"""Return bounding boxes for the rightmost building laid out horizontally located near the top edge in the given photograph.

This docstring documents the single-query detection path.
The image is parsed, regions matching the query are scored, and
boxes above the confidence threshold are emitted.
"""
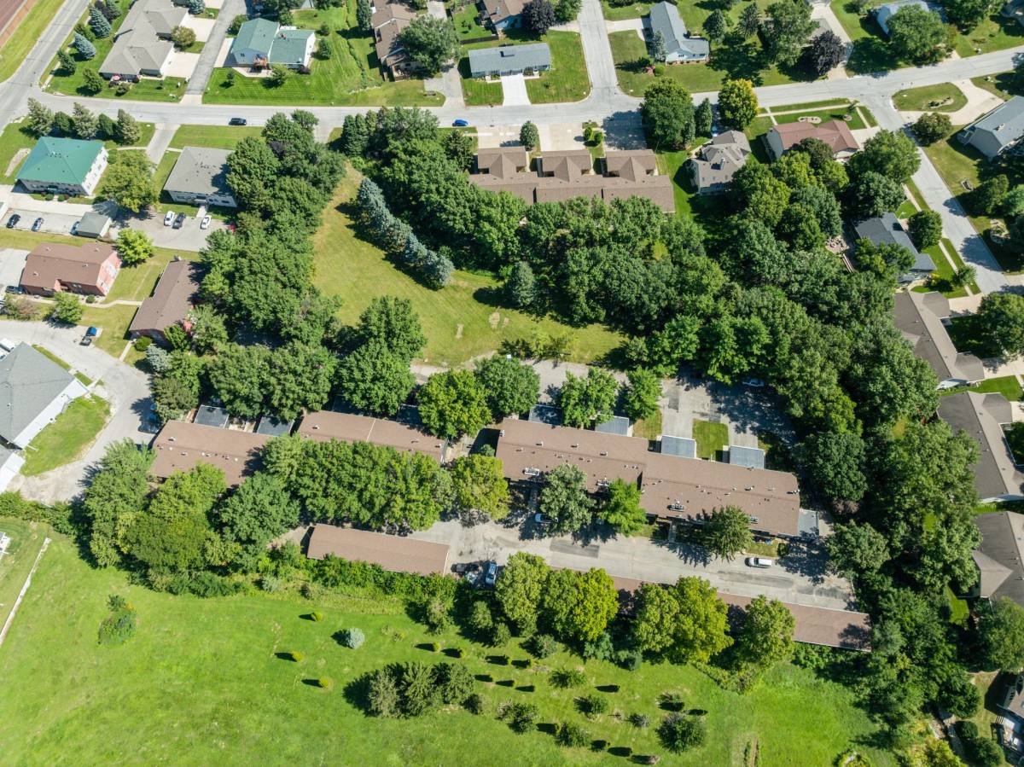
[868,0,937,35]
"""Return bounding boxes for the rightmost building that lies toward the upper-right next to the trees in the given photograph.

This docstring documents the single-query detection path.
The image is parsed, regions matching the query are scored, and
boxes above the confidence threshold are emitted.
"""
[964,86,1024,156]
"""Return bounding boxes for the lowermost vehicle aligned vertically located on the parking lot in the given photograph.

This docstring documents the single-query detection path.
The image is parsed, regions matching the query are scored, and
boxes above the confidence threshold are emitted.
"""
[483,553,499,587]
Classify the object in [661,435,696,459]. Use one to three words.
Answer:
building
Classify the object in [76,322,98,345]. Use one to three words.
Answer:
truck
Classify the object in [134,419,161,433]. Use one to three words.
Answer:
car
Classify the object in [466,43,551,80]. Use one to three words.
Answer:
house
